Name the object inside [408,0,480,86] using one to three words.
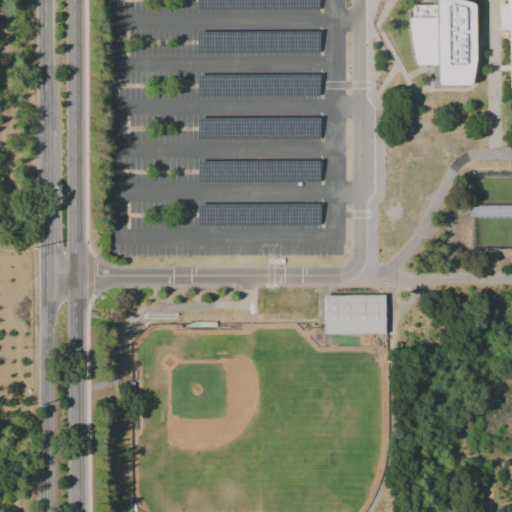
building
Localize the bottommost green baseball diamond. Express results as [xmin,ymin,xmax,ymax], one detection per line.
[134,323,390,512]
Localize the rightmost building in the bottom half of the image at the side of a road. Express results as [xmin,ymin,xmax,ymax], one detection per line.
[326,294,387,334]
